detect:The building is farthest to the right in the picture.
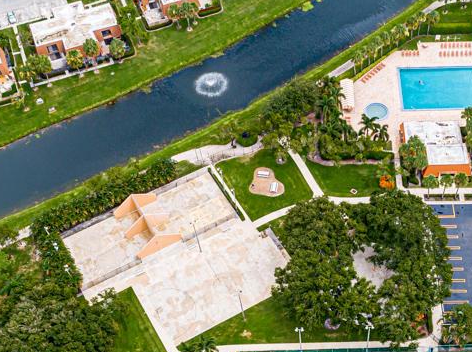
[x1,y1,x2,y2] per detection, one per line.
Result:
[399,120,472,178]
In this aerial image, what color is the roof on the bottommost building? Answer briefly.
white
